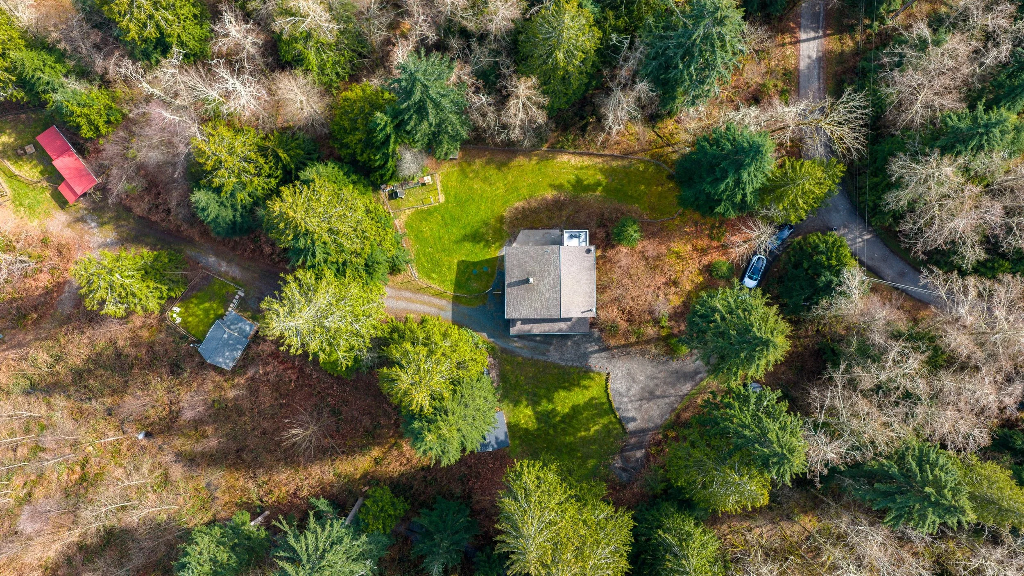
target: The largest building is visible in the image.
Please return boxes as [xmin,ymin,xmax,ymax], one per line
[504,244,596,334]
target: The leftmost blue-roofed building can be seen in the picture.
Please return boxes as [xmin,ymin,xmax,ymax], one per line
[198,319,254,371]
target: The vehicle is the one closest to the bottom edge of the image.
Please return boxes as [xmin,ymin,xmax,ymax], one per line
[741,253,767,289]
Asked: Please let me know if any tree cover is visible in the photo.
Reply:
Yes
